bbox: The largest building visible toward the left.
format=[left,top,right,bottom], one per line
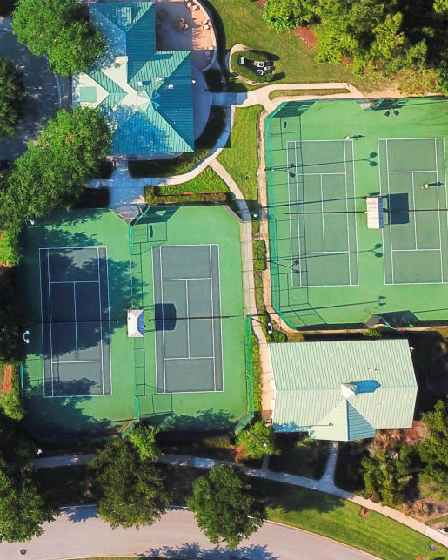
[72,1,194,152]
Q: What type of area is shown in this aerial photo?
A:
sports ground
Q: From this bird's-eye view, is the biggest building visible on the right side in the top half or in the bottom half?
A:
bottom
